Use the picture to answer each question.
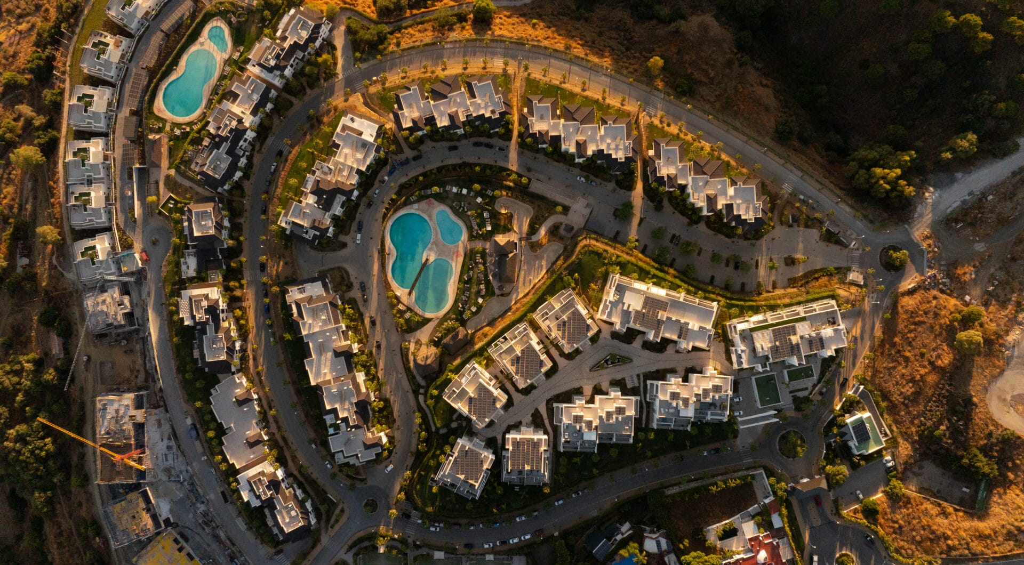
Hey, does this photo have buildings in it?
Yes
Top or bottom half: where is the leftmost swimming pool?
top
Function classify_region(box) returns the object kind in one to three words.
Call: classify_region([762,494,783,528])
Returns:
shed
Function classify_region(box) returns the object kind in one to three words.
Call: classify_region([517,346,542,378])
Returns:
solar array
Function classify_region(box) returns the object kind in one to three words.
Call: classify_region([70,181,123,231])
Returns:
house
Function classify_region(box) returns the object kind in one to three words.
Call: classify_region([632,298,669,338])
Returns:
solar array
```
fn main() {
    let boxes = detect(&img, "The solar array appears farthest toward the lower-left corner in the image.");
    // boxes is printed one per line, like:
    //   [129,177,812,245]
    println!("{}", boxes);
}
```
[457,451,482,482]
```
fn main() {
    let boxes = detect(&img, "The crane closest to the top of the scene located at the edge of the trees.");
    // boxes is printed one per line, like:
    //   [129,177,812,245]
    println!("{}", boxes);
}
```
[62,250,138,390]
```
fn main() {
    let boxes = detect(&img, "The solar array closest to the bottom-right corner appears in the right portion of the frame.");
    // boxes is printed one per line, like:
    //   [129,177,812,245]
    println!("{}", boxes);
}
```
[853,423,871,445]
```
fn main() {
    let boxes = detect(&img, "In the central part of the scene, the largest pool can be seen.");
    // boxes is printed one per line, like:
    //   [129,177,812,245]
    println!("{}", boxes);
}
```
[385,198,467,318]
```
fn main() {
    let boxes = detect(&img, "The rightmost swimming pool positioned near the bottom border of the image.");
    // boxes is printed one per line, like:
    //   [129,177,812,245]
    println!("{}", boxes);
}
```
[720,528,738,541]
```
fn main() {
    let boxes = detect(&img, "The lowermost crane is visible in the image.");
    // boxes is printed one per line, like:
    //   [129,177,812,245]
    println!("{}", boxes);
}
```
[35,418,149,472]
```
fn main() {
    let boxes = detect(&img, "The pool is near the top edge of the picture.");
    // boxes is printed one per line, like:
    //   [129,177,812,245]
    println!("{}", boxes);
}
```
[153,17,232,123]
